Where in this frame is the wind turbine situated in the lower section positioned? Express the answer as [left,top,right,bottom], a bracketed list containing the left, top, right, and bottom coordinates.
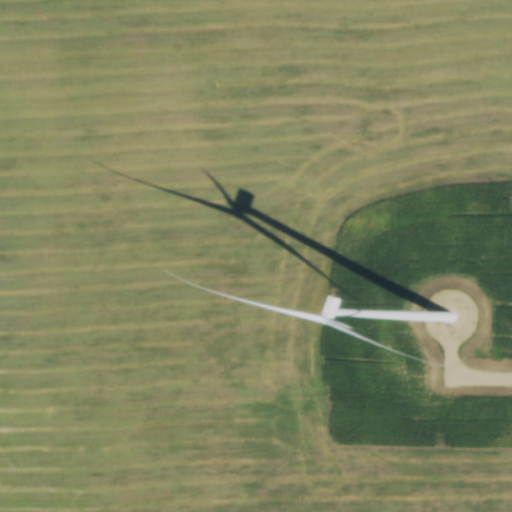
[165,270,458,368]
